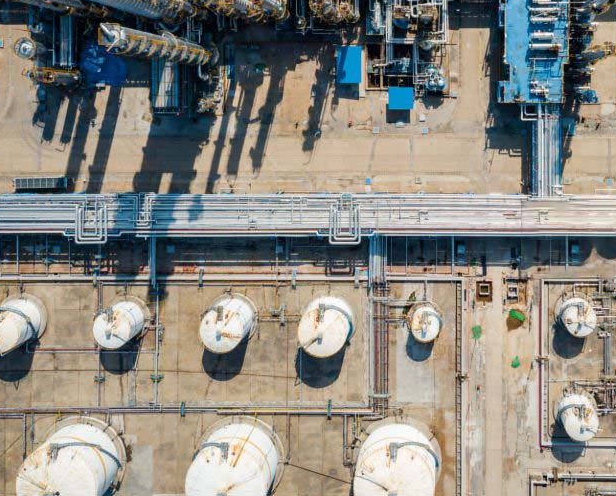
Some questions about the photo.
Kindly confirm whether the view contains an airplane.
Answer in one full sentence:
No, there isn't any airplane down there.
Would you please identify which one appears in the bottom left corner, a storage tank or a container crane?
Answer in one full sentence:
You can see a storage tank in the bottom left corner.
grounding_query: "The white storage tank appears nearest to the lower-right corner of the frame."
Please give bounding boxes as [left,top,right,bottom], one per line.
[556,392,600,442]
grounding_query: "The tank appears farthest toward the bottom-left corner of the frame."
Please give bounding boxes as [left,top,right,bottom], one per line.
[14,416,126,496]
